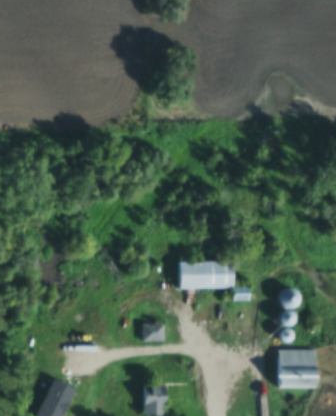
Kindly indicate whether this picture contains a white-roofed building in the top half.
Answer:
No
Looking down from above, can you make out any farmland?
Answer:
Yes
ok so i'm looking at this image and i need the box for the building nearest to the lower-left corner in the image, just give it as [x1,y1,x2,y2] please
[36,378,76,416]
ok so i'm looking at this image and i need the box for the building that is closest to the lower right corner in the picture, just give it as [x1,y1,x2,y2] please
[276,350,320,388]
